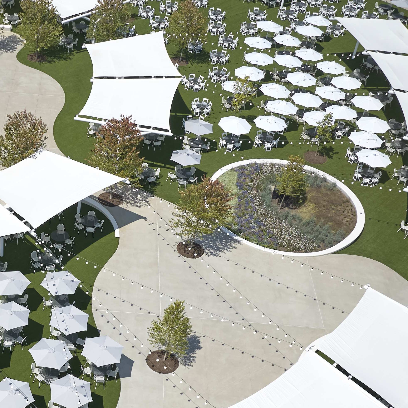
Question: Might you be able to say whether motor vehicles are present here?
No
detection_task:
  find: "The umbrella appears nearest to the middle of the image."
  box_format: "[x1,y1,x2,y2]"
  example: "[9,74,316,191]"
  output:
[169,150,201,184]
